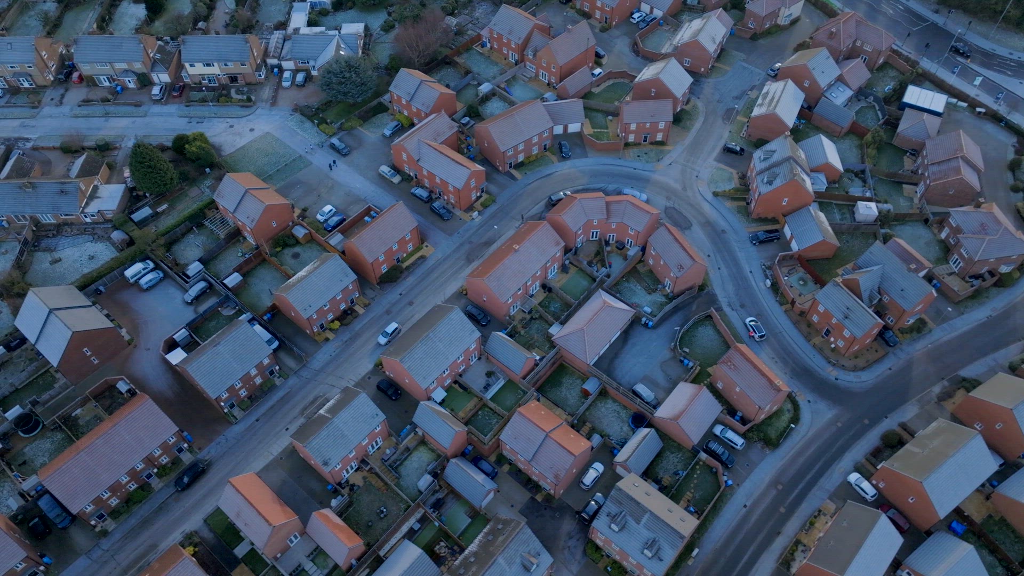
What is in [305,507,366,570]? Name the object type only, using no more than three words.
building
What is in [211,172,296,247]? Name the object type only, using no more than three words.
house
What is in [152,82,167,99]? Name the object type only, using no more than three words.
car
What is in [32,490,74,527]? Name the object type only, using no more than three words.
van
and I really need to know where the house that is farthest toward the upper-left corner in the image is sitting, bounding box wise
[0,35,63,87]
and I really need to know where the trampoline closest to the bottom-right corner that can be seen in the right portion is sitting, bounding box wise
[623,402,654,432]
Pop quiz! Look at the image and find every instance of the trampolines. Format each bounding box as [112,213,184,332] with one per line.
[623,402,654,432]
[5,407,42,439]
